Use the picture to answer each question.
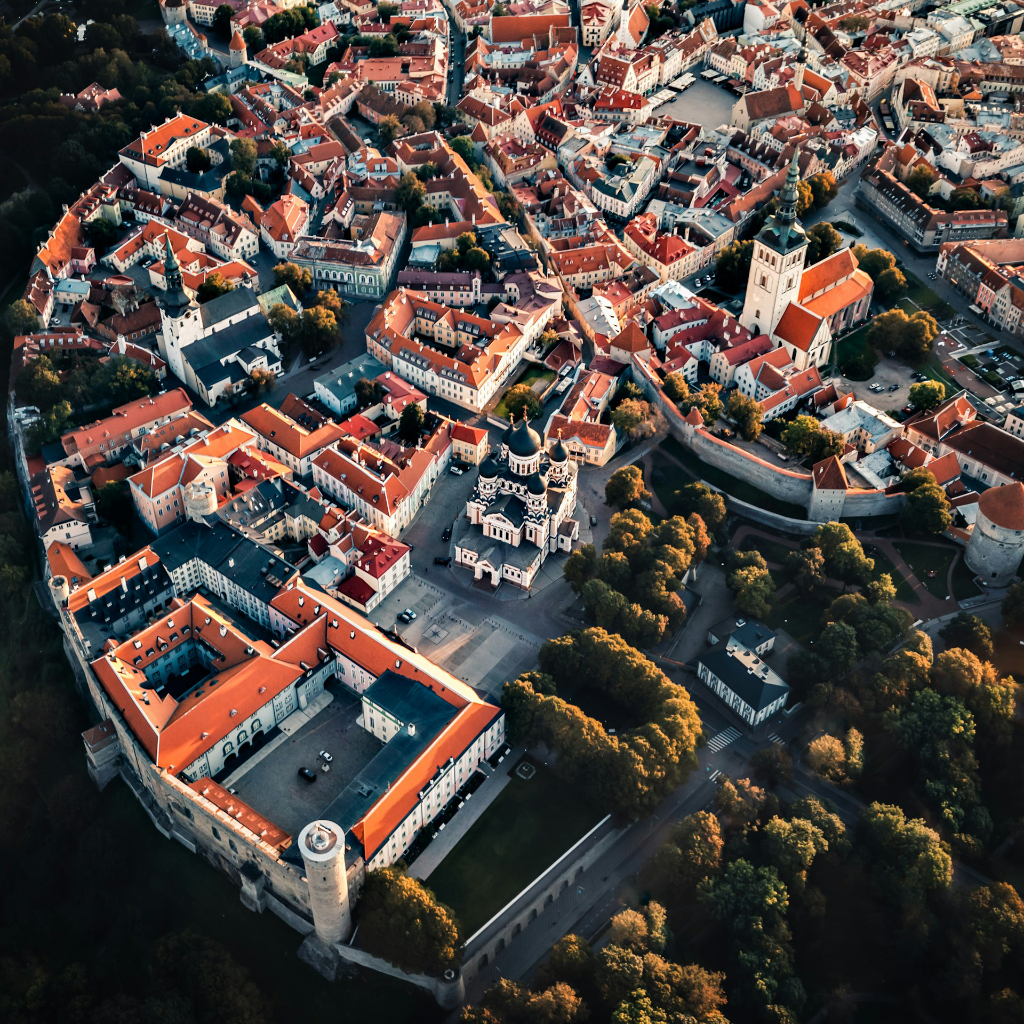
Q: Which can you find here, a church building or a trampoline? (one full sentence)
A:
There is a church building in the scene.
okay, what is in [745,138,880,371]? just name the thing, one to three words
church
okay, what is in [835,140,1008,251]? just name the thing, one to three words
house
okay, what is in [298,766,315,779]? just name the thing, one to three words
vehicle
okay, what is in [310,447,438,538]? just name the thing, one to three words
building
